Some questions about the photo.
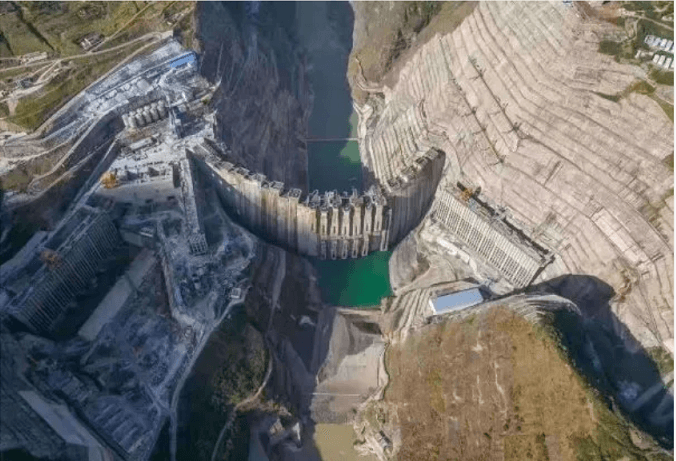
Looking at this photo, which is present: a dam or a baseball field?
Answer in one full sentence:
The image shows a dam.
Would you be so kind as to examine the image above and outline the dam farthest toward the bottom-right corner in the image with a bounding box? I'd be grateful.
[321,305,386,324]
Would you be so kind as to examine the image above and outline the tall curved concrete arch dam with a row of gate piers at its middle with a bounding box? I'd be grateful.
[199,145,445,264]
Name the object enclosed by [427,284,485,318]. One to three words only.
building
